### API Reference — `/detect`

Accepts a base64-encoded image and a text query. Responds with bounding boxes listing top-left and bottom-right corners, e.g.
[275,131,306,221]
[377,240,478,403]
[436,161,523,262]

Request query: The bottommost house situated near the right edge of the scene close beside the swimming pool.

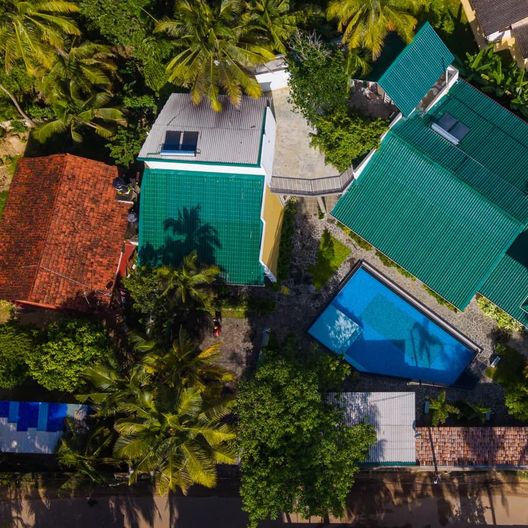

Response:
[329,76,528,326]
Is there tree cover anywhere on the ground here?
Yes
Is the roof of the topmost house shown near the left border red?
Yes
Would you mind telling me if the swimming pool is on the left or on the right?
right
